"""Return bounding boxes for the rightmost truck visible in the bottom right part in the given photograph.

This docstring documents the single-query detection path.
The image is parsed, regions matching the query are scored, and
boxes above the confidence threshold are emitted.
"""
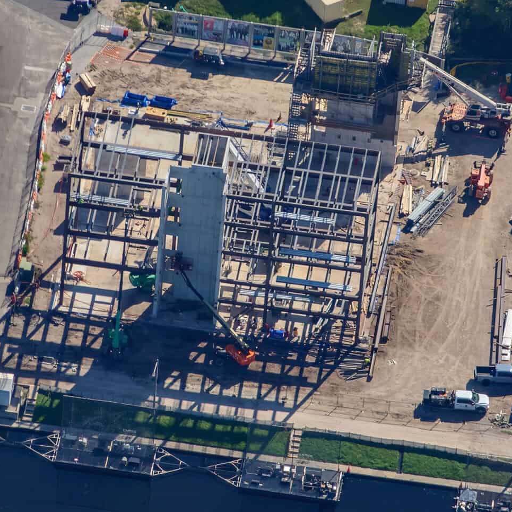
[475,361,512,383]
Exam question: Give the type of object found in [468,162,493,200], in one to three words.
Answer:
work vehicle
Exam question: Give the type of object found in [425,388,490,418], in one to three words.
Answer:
truck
